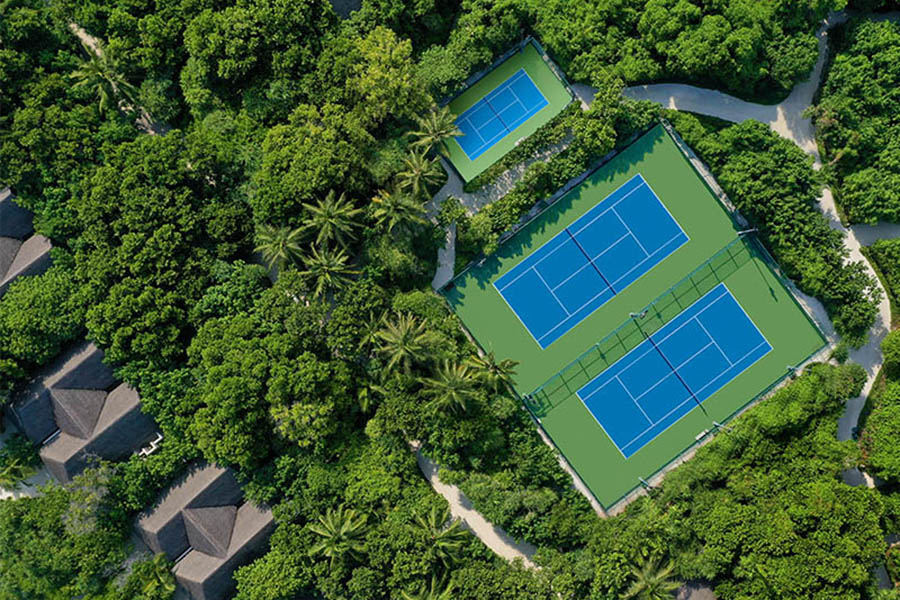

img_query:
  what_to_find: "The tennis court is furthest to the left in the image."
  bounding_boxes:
[432,43,572,182]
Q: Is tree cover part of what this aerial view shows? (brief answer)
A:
Yes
